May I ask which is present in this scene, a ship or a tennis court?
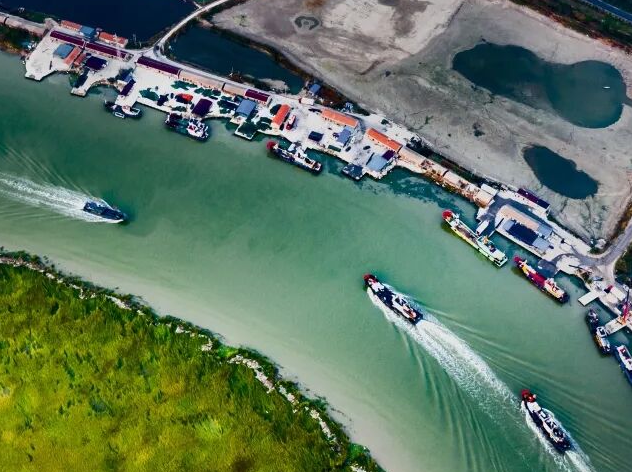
ship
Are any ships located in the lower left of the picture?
No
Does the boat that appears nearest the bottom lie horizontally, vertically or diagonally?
diagonally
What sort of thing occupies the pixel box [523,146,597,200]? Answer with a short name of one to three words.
pond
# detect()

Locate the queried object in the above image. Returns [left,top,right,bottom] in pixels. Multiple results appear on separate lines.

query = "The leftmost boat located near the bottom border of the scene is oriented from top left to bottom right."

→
[522,390,578,454]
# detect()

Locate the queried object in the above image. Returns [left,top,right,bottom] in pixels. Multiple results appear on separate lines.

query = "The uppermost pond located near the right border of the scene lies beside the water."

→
[453,44,627,129]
